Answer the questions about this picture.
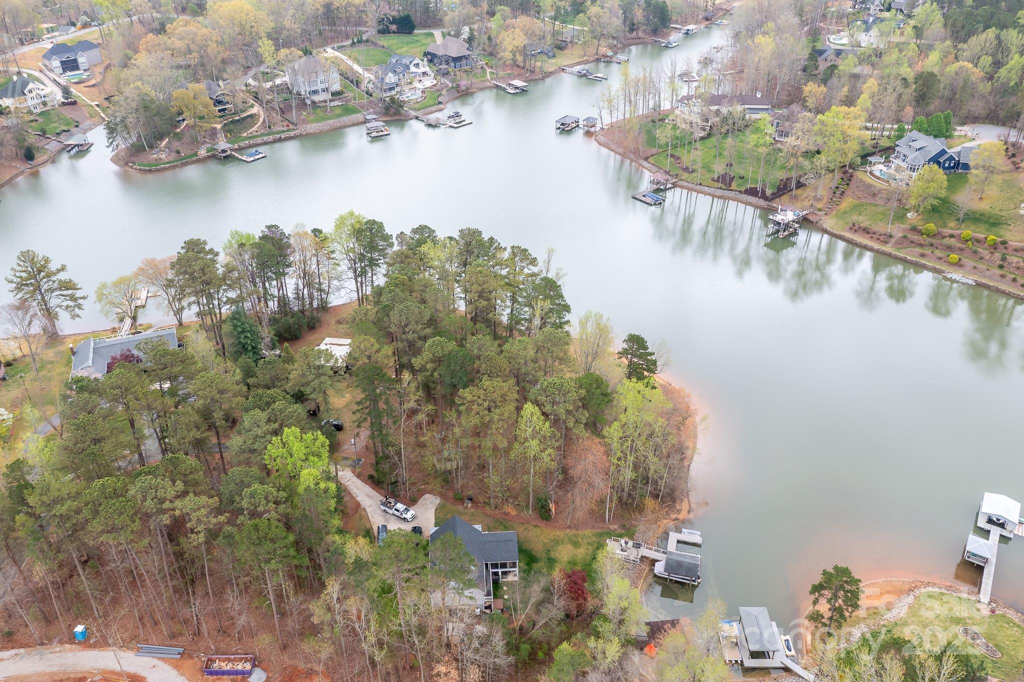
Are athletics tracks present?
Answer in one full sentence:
No, no athletics track can be seen from above.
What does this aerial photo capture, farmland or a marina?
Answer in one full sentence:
The picture captures a marina.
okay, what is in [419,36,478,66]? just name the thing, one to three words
house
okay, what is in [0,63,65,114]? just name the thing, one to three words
house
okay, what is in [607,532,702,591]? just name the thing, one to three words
pier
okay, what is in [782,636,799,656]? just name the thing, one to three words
boat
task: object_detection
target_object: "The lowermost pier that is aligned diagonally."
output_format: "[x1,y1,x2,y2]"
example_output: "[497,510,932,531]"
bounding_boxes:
[736,608,819,682]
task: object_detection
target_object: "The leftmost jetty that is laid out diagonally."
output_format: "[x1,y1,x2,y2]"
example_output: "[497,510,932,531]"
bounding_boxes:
[115,288,160,330]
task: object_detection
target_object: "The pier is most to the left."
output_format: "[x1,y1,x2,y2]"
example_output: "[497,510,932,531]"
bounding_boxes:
[61,138,93,154]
